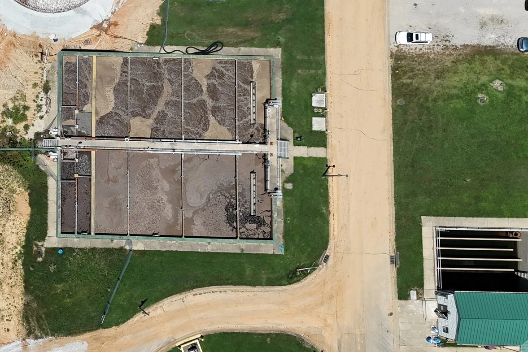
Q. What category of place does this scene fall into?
industrial area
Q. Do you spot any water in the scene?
Yes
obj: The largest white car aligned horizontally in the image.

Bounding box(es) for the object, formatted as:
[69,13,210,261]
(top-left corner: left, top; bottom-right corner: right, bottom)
[397,27,436,45]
